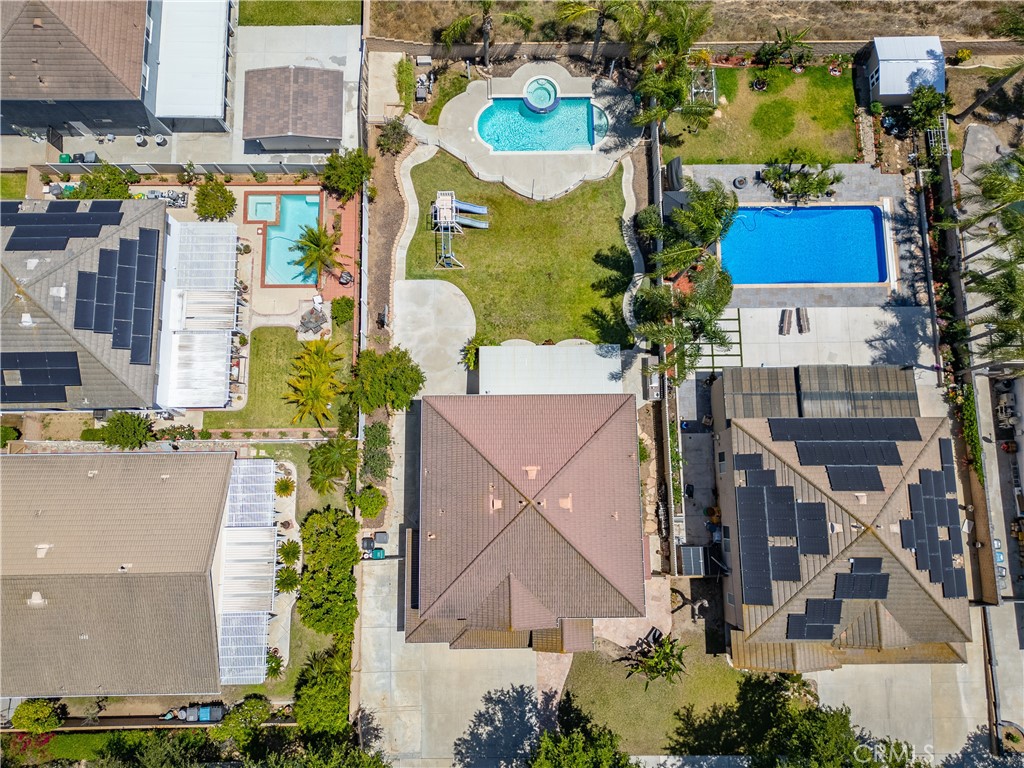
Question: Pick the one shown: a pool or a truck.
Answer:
pool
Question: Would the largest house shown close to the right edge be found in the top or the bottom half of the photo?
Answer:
bottom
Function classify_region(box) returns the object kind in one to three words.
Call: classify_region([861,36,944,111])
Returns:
shed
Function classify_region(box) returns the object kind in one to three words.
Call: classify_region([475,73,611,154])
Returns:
swimming pool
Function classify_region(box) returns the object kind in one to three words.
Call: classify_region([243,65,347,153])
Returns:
shed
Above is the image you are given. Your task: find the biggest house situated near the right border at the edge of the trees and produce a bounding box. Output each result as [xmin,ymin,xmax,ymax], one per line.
[718,416,974,673]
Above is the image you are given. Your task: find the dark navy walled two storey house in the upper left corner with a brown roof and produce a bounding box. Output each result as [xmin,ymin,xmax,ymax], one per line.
[0,0,169,133]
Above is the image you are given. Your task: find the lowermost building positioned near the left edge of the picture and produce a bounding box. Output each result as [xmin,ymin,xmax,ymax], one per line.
[0,451,235,699]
